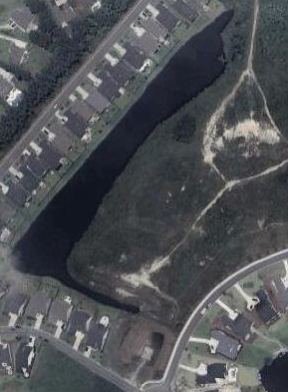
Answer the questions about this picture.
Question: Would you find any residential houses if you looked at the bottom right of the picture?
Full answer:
Yes, I can see a residential house at the bottom right of the picture.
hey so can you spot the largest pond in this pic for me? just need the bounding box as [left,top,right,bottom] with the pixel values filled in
[14,12,233,313]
